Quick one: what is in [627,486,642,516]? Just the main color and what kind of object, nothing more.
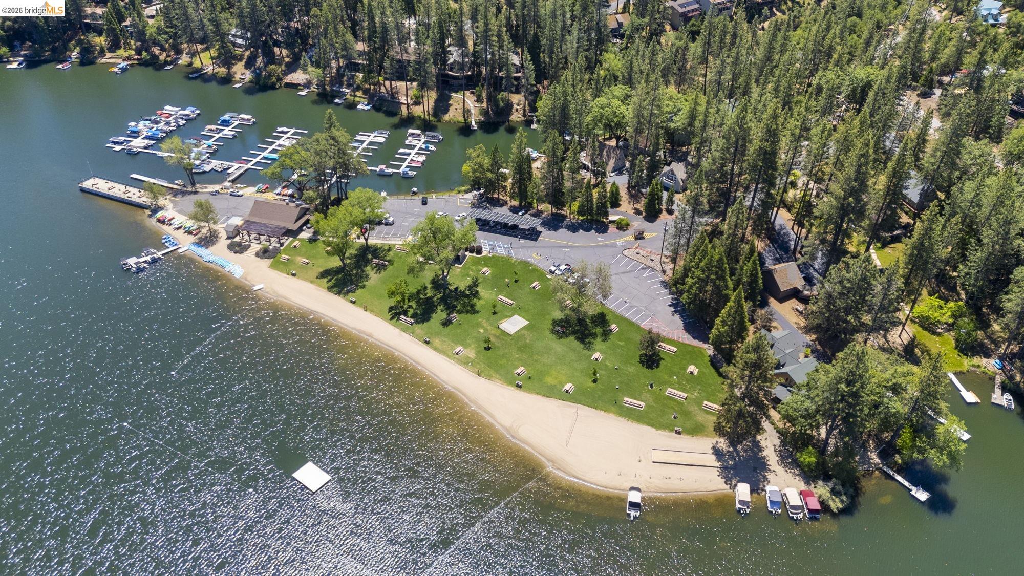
white boat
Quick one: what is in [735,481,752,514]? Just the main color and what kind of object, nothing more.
white boat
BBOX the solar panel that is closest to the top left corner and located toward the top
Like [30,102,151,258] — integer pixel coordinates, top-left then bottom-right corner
[468,207,542,229]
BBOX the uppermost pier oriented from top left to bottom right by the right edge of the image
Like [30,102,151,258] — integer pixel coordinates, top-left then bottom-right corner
[947,373,980,404]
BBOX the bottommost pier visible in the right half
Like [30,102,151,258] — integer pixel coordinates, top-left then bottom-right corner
[880,465,931,502]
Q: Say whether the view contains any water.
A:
Yes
